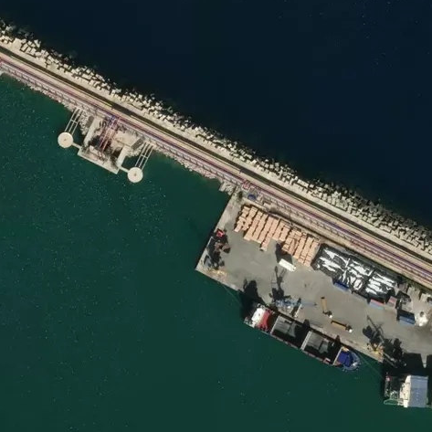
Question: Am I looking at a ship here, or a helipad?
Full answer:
Of the two, only a ship appears.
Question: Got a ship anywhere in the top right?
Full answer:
No, there's no ship to be seen in the top right.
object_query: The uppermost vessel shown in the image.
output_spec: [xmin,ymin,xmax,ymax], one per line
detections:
[245,303,360,368]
